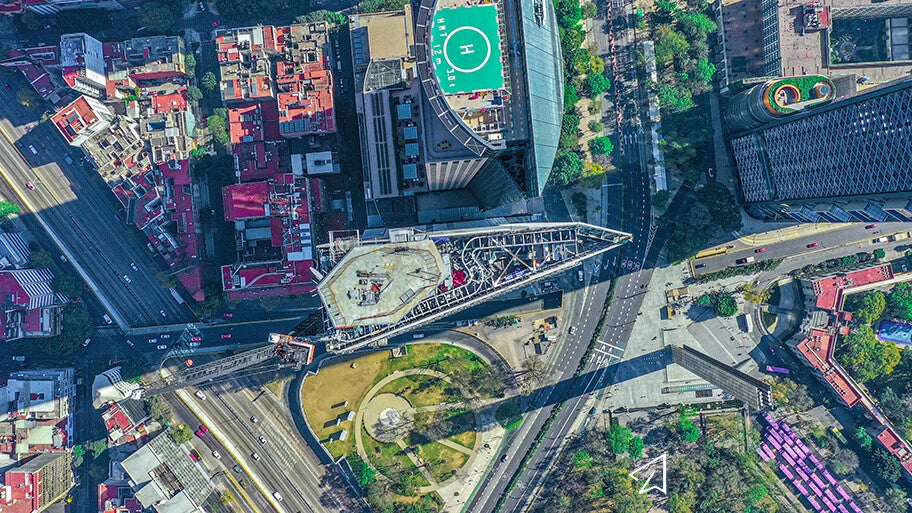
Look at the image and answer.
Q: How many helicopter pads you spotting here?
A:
1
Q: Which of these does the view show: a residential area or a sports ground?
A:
residential area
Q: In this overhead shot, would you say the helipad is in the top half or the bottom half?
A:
top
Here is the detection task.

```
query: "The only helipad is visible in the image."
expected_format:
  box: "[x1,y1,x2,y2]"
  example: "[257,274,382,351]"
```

[431,5,503,95]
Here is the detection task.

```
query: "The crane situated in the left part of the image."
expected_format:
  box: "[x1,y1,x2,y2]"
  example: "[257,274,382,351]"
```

[134,315,334,403]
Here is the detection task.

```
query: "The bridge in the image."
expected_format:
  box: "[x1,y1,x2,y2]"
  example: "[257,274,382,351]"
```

[121,315,268,362]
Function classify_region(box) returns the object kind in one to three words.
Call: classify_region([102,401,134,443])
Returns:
house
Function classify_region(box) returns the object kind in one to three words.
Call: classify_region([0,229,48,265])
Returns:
building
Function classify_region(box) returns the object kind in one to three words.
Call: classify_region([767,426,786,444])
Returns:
vehicle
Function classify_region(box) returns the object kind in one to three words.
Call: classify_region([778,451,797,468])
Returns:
vehicle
